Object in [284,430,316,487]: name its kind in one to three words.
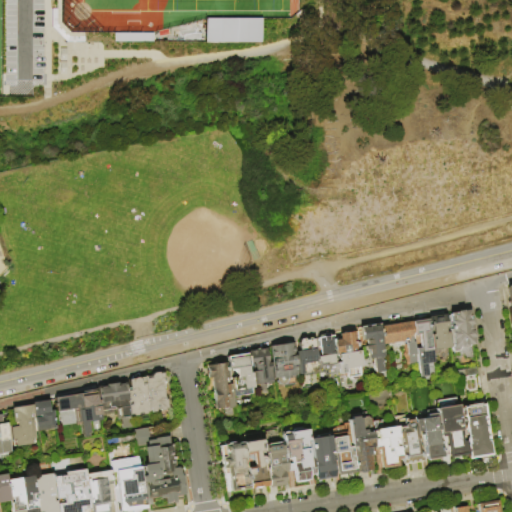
house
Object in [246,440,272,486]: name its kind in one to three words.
house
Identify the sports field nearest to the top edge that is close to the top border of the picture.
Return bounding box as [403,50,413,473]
[63,0,300,30]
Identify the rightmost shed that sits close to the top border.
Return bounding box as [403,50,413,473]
[206,16,264,44]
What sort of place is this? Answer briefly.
residential area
